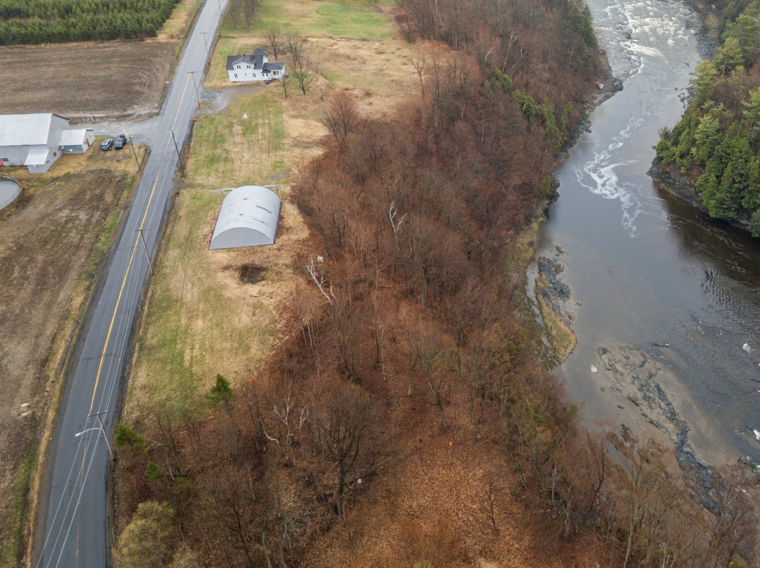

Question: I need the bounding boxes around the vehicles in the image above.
[109,134,132,148]
[96,140,114,151]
